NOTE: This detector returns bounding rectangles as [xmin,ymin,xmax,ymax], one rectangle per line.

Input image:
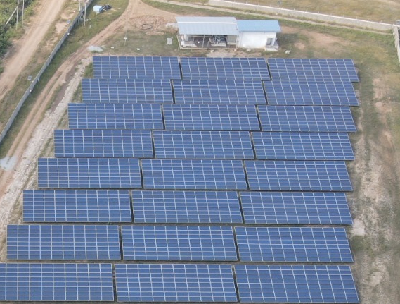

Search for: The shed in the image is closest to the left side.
[174,17,241,50]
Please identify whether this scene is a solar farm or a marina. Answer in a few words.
solar farm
